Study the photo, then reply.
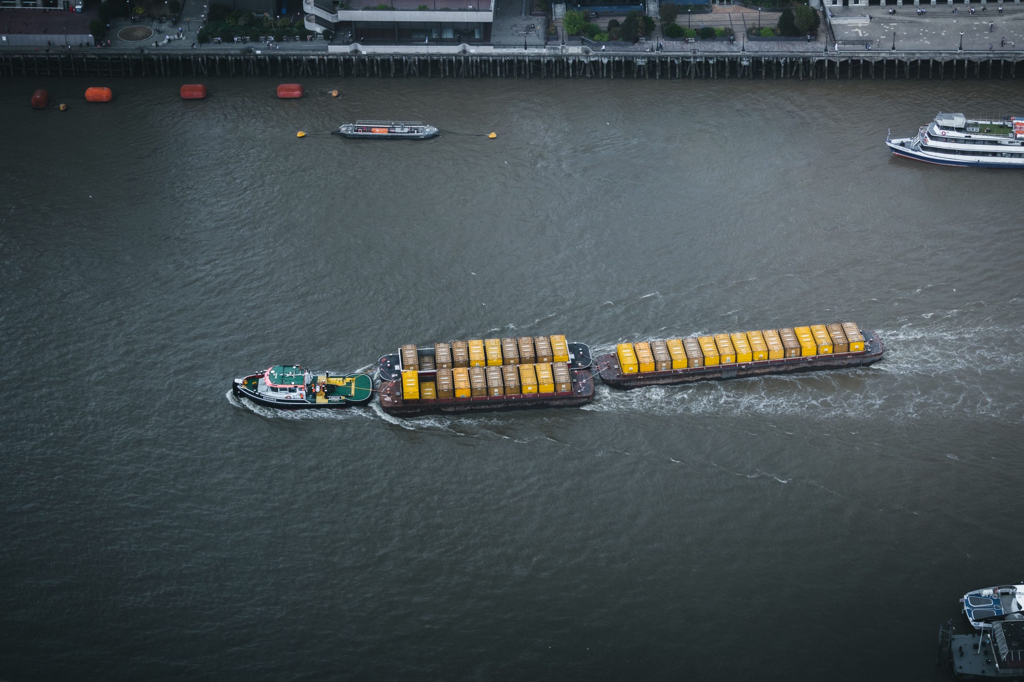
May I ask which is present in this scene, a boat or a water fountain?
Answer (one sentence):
Of the two, only a boat appears.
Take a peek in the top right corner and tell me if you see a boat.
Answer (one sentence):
Yes, a boat appears in the top right corner.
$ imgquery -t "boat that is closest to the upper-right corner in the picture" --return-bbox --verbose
[886,109,1024,170]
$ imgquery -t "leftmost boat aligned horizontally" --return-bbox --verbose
[229,365,374,410]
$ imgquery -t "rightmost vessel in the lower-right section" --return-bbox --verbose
[957,577,1024,632]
